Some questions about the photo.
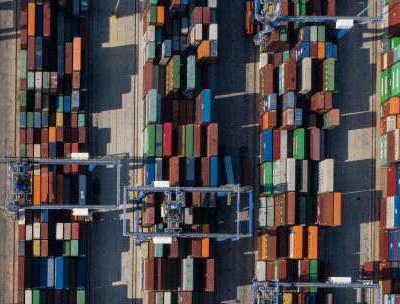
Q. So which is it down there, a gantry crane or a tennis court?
gantry crane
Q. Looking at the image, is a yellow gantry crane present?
No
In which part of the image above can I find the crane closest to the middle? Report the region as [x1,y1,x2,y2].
[123,177,252,250]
